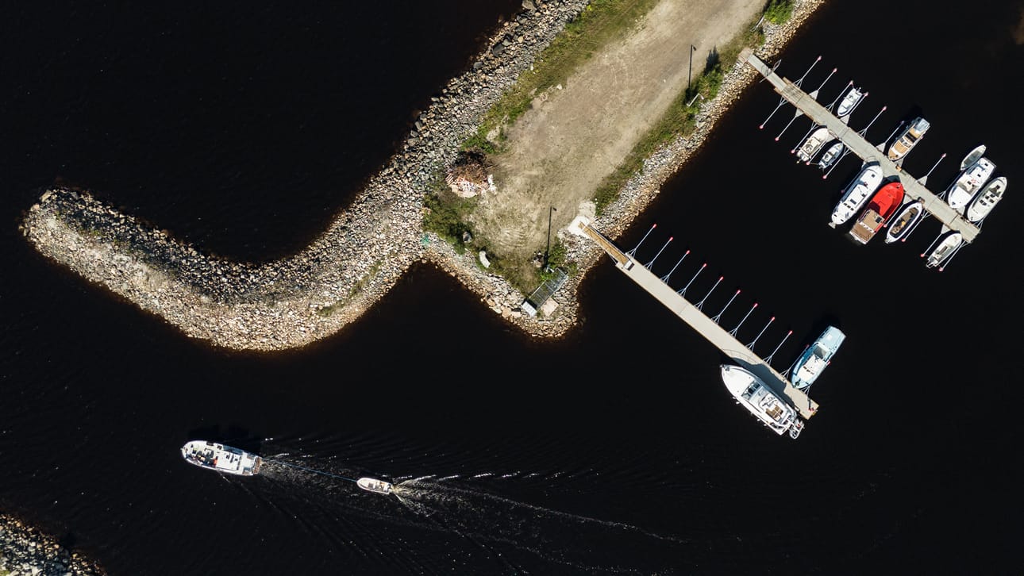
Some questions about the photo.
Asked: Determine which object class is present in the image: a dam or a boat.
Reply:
boat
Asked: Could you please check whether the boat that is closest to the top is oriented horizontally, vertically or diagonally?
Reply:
diagonally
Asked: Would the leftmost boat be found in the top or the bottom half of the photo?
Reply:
bottom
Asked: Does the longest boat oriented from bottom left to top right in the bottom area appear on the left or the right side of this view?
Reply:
right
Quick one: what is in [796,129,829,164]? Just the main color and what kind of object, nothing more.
white boat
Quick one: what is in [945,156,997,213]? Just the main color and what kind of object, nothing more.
white boat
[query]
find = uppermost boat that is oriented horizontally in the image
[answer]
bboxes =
[179,441,265,476]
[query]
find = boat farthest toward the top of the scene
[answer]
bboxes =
[837,86,864,116]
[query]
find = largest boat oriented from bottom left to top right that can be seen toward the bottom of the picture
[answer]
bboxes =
[791,326,846,394]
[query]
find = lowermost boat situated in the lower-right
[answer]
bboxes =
[791,418,805,438]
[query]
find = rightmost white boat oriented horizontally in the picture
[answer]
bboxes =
[357,478,394,495]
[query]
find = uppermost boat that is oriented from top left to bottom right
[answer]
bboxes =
[719,358,800,438]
